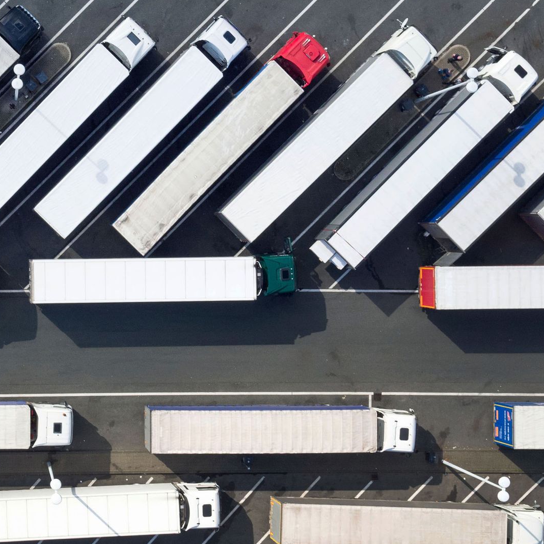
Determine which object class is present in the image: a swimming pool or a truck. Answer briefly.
truck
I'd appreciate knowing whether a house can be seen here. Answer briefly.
No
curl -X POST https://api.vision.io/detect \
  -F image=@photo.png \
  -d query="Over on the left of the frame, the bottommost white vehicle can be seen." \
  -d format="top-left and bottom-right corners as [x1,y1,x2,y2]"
[0,479,221,542]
